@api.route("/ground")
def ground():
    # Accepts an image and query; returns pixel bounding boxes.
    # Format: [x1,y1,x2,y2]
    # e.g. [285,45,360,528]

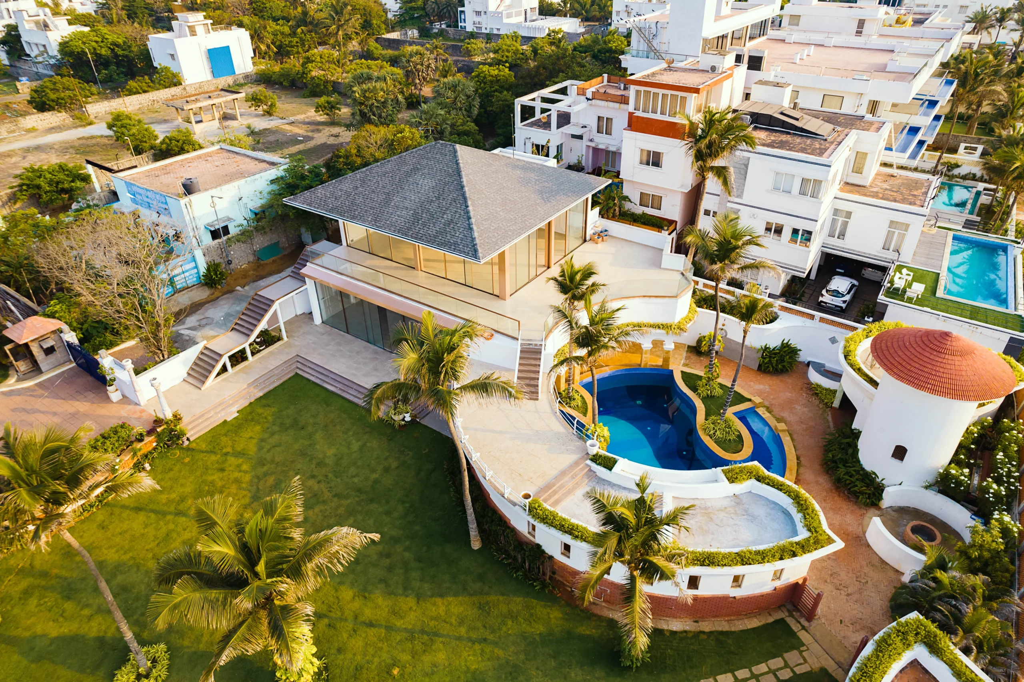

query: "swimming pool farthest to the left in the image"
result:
[551,317,797,483]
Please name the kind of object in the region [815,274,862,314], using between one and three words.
car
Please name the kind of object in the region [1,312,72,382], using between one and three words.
shed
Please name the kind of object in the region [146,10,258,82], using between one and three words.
building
